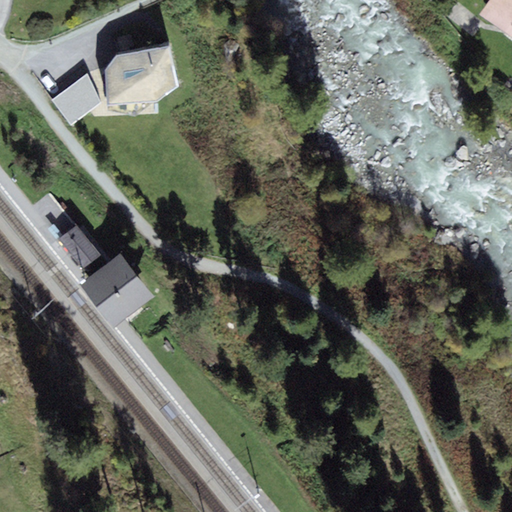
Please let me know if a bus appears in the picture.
No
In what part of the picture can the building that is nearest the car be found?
top left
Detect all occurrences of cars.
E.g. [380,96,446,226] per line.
[40,72,58,94]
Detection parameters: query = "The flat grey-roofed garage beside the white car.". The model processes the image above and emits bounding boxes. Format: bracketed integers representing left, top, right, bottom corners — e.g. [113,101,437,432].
[52,74,101,125]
